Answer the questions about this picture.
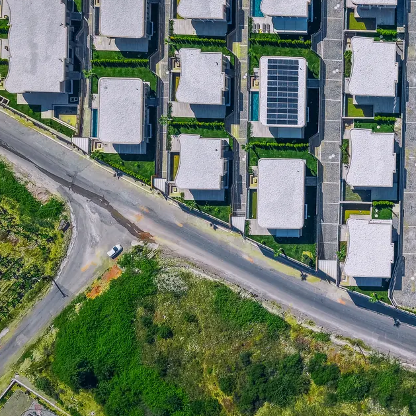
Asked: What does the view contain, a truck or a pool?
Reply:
pool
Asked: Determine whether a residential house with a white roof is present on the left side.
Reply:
Yes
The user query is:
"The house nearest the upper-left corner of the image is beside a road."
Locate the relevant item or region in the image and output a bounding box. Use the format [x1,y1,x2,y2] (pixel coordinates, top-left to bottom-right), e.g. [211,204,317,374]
[5,0,77,92]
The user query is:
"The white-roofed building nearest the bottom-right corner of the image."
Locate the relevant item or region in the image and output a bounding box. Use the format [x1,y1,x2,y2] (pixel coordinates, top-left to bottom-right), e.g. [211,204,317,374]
[344,218,394,279]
